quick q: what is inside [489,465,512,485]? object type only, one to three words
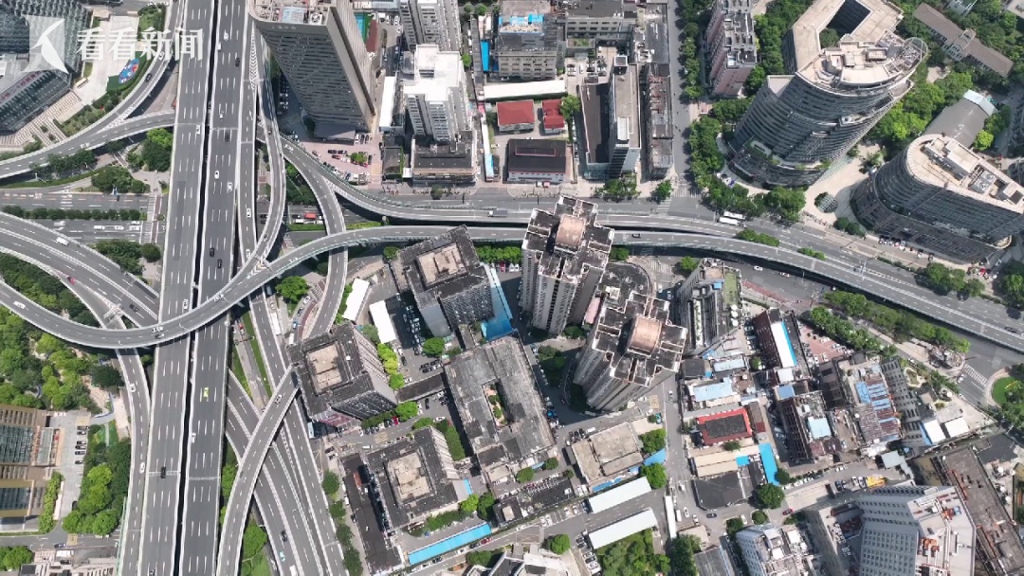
shed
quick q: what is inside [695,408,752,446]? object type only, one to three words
building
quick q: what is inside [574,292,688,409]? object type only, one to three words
building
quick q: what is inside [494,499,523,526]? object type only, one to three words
house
